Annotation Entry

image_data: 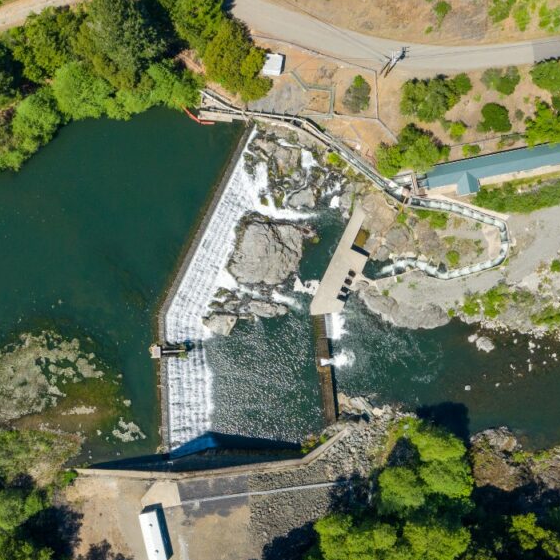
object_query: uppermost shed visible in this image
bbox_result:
[262,53,284,80]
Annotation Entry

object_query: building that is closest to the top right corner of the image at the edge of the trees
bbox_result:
[426,144,560,198]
